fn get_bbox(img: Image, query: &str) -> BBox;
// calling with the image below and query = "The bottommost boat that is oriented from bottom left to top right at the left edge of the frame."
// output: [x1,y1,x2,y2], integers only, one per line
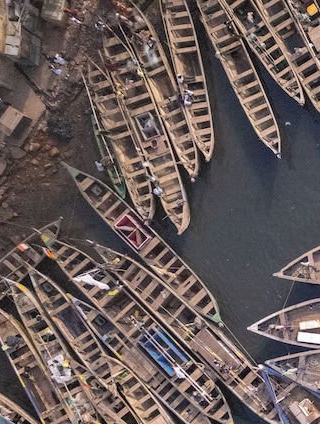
[0,210,71,290]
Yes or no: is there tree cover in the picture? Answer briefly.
No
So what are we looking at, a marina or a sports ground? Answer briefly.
marina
